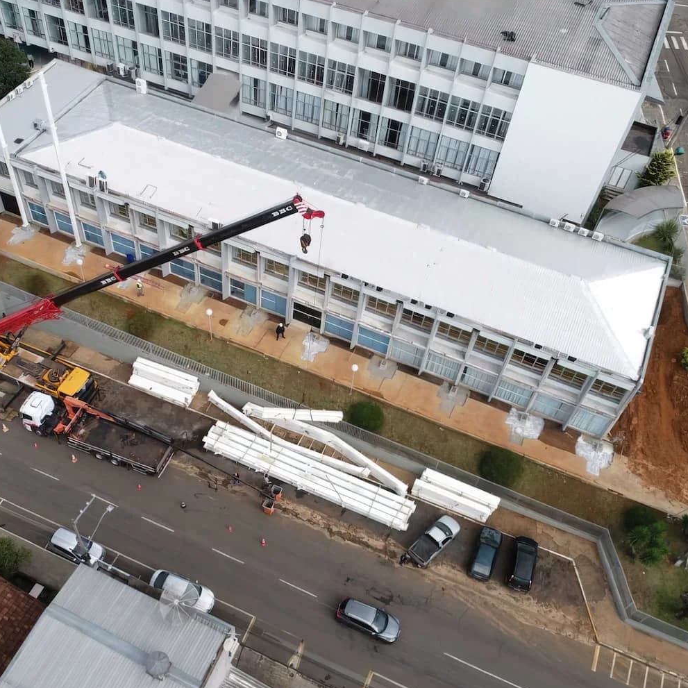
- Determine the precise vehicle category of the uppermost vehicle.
truck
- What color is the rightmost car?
black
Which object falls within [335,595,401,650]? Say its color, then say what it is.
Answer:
gray car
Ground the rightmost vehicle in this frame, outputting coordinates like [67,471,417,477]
[508,535,547,589]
